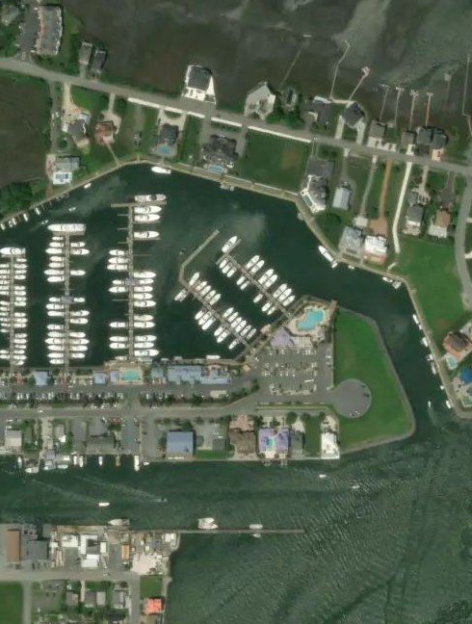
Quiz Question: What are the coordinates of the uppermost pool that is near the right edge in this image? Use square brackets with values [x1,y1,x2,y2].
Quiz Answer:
[444,355,457,370]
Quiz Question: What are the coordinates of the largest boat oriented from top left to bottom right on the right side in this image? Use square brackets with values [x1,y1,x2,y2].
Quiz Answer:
[320,245,336,266]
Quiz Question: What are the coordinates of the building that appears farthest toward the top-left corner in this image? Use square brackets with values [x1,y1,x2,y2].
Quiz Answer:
[0,5,21,26]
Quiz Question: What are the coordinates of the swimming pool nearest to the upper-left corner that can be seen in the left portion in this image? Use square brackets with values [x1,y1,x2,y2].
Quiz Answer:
[154,145,177,157]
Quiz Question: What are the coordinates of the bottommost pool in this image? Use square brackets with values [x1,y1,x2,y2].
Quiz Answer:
[265,439,279,458]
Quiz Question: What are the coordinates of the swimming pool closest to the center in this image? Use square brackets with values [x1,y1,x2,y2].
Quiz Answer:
[288,302,329,338]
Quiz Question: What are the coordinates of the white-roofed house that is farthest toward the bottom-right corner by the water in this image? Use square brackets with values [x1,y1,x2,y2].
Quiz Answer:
[321,435,338,456]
